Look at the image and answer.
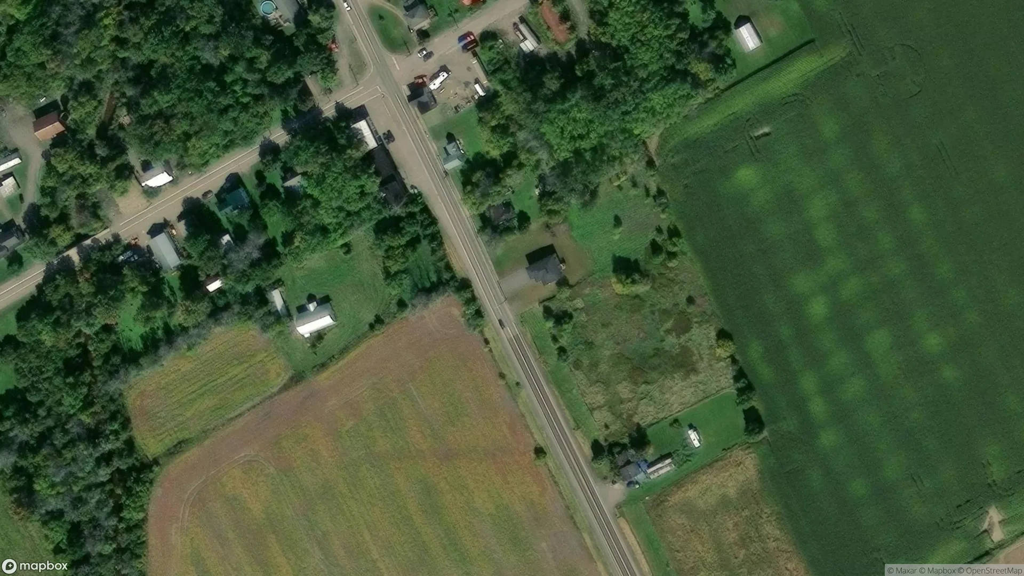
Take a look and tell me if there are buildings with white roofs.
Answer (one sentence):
Yes, this view includes a building with a white roof.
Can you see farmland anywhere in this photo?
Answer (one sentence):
Yes, there's farmland in this view.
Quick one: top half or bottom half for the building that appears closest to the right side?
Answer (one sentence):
The building that appears closest to the right side sits in the top half of the picture.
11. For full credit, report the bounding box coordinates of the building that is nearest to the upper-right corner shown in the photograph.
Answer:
[736,23,761,52]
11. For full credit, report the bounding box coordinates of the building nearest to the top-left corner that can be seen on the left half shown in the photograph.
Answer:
[33,111,67,141]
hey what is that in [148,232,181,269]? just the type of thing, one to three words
shed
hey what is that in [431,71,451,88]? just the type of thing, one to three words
camper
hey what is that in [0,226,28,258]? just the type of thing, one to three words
house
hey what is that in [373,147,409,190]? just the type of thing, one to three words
building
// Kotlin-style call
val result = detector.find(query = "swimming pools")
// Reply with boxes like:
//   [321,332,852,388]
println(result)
[261,1,276,16]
